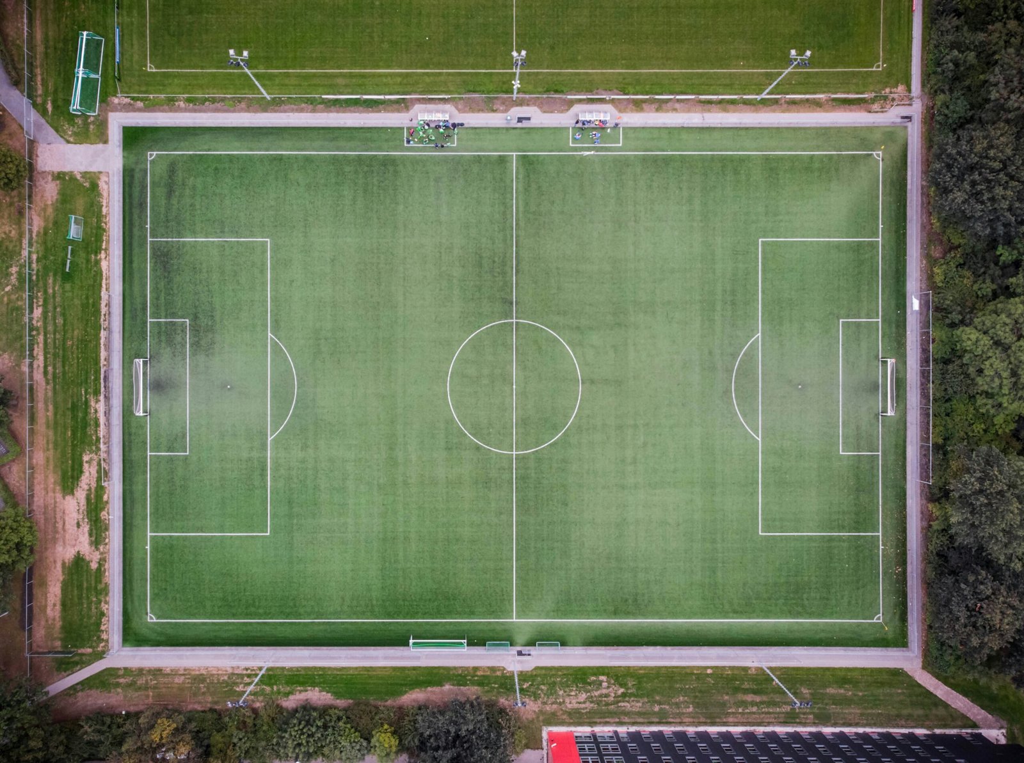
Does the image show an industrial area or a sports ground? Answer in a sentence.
It's a sports ground.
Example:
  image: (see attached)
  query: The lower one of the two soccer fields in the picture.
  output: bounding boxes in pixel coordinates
[123,126,907,647]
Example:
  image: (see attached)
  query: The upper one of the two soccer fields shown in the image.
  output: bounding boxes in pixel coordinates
[120,0,912,96]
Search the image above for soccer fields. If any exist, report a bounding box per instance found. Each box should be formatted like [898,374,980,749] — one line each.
[123,126,907,647]
[120,0,912,96]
